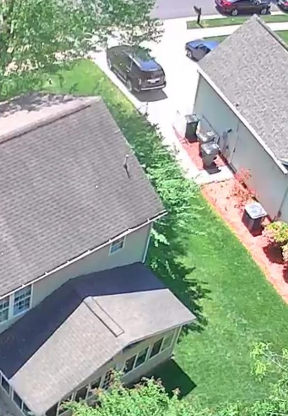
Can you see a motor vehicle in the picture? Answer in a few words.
Yes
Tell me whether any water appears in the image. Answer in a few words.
No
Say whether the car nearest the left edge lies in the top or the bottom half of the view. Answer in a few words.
top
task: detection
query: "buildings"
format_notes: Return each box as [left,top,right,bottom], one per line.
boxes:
[0,91,194,416]
[193,16,288,220]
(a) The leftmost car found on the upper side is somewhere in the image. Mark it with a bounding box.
[109,43,165,86]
